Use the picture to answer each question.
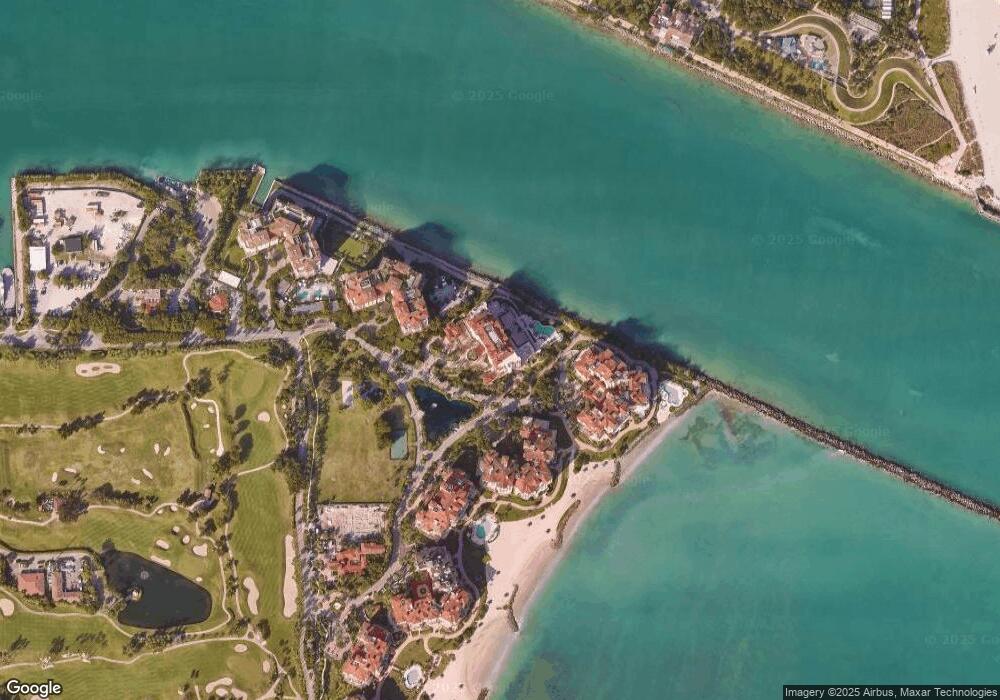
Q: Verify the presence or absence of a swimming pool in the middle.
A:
Yes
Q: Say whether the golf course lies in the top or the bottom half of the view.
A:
bottom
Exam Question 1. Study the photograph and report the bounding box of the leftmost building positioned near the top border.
[646,0,699,54]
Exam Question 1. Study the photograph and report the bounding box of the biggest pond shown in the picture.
[101,546,211,628]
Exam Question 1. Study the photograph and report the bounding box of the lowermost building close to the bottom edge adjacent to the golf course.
[340,620,393,695]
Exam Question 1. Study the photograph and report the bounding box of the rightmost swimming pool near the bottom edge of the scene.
[405,665,423,688]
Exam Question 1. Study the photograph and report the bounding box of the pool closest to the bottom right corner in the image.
[657,380,688,425]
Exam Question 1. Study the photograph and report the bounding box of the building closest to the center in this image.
[441,302,521,387]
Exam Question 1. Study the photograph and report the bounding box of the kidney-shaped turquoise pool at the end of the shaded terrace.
[530,317,561,344]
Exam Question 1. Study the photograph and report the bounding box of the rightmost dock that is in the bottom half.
[693,372,1000,519]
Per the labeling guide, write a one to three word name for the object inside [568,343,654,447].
building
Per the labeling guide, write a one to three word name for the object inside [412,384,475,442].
pond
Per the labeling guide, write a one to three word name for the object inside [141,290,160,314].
house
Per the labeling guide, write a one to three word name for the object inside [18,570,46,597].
building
